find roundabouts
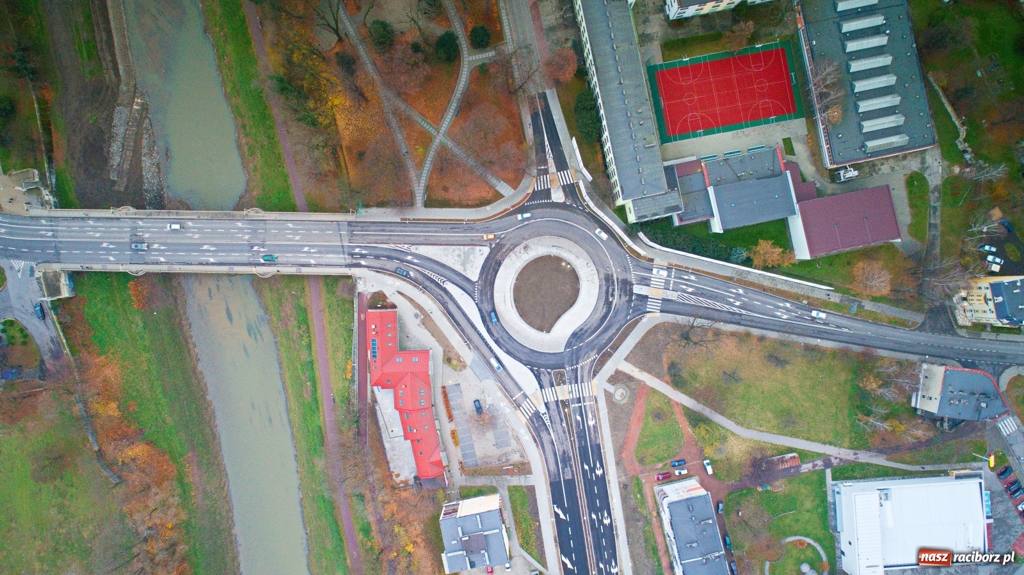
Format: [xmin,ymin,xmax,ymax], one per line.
[410,157,678,575]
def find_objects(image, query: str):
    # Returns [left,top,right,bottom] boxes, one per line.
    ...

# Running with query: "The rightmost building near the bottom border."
[836,464,993,575]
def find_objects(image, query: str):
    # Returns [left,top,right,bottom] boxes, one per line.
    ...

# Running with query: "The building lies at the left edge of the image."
[8,167,44,185]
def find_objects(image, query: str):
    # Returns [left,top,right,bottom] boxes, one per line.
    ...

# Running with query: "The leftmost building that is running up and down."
[366,311,449,486]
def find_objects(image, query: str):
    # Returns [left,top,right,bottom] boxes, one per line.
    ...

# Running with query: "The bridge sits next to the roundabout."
[38,205,358,277]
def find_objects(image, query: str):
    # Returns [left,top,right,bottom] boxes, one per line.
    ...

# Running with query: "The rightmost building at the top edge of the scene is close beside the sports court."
[793,0,939,169]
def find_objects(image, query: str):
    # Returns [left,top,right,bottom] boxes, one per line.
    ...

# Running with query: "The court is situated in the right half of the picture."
[646,36,809,144]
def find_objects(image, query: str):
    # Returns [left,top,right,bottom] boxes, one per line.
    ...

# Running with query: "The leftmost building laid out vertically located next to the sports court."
[572,0,668,206]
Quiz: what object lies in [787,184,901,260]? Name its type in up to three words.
building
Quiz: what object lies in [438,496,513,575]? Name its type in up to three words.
building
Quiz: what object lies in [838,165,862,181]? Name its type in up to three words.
vehicle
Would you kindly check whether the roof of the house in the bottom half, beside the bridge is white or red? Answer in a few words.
red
